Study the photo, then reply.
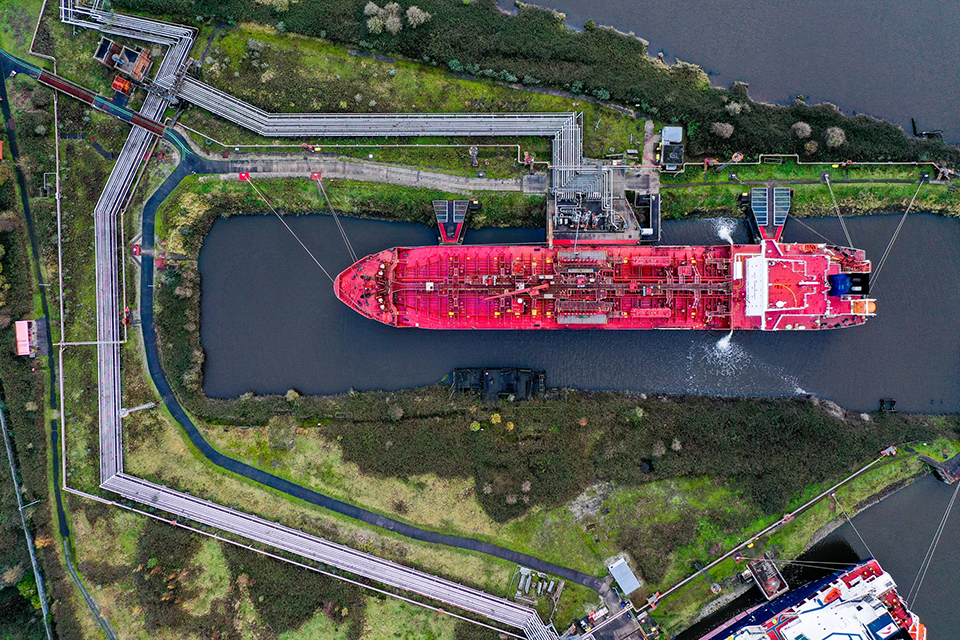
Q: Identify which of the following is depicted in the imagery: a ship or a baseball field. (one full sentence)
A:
The one in the frame is a ship.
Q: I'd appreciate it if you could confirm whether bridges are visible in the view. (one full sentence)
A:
Yes, I can see a bridge in this picture.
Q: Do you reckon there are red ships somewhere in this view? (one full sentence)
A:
Yes, you can see a red ship in this photo.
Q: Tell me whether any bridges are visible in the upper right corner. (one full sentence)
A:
No, the scene shows no bridge in the upper right corner.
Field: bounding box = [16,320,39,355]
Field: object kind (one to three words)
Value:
building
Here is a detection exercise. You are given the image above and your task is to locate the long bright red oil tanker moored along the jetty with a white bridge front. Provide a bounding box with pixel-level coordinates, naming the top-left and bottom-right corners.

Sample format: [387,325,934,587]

[333,239,877,331]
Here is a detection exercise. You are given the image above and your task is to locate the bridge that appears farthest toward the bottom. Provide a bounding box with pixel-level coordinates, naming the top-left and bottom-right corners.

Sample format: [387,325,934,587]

[128,111,172,141]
